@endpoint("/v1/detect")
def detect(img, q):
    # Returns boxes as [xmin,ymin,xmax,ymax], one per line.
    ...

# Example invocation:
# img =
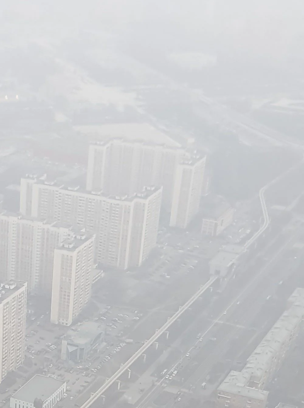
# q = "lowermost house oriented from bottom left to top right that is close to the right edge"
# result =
[213,298,304,408]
